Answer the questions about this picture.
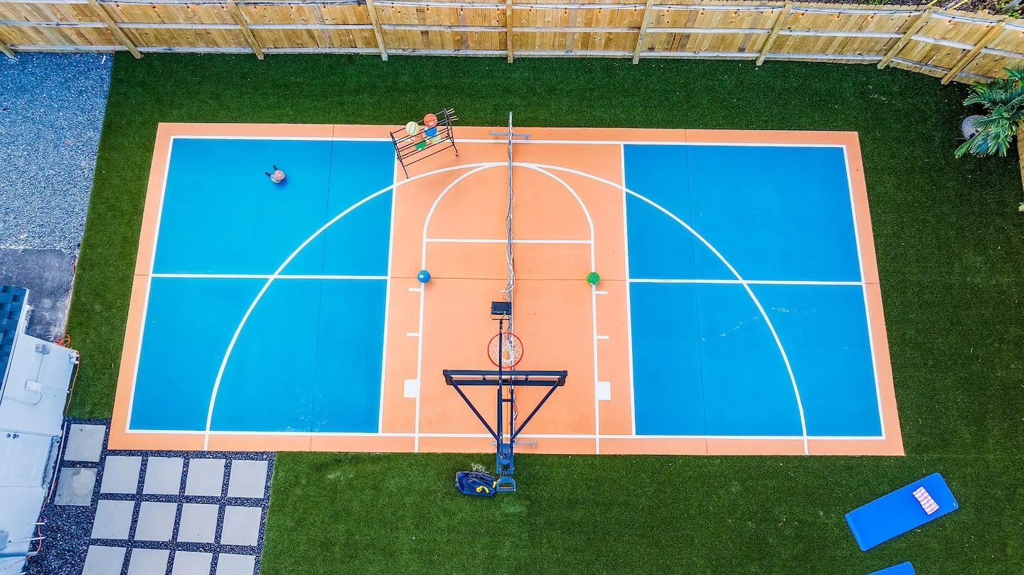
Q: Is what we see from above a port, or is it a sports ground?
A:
sports ground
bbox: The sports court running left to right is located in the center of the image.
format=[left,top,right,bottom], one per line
[107,123,905,456]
